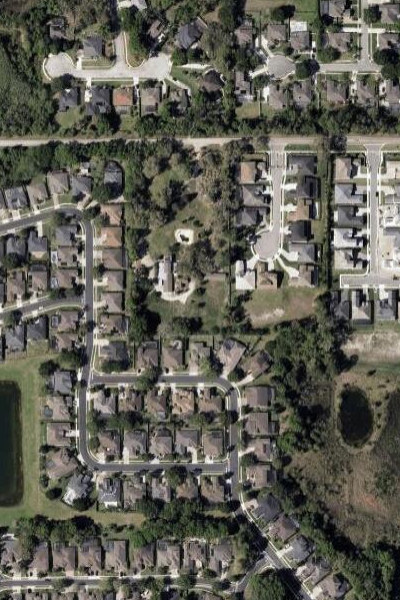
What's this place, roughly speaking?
residential area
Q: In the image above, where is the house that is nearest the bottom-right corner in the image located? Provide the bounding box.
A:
[317,574,347,600]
